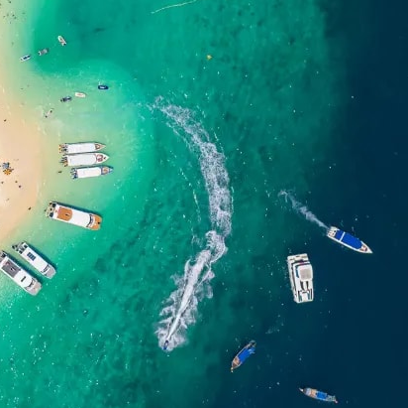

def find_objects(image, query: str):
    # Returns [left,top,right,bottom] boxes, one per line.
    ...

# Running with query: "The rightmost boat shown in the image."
[323,224,373,253]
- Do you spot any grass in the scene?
No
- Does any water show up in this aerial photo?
Yes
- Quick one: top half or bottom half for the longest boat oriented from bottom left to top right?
bottom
